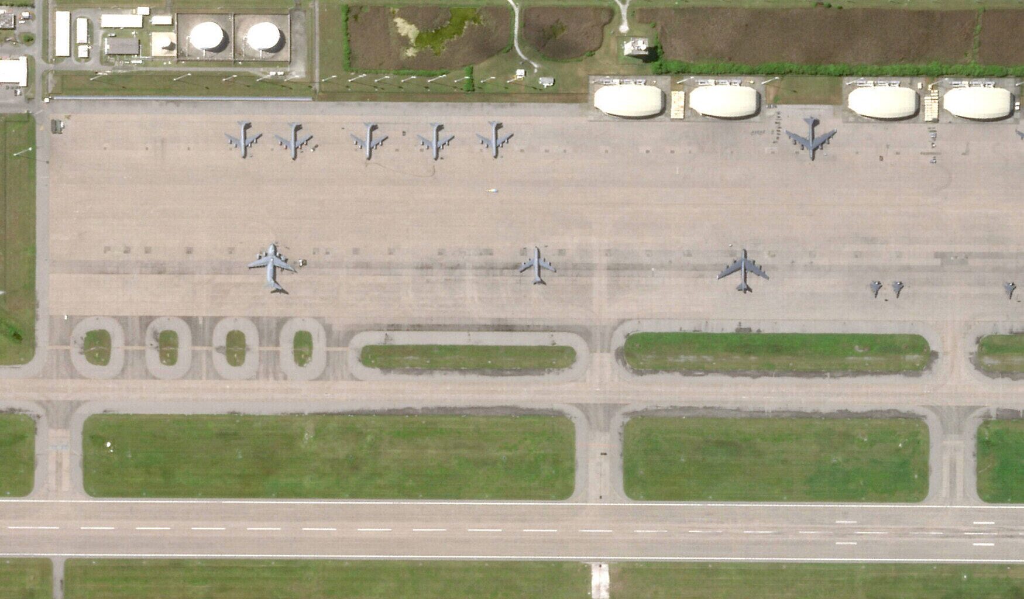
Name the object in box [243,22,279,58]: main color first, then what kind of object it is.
white storage tank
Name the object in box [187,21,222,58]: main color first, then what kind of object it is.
white storage tank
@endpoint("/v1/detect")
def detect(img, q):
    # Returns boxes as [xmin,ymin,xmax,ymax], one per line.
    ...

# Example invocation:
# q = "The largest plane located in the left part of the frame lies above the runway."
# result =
[249,244,296,291]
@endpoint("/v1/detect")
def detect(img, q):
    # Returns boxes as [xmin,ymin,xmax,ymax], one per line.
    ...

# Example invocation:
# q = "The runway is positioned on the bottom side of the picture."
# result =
[0,501,1024,561]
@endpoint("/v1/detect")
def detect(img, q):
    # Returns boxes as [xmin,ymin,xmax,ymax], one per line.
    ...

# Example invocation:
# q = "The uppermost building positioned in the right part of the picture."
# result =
[624,37,649,55]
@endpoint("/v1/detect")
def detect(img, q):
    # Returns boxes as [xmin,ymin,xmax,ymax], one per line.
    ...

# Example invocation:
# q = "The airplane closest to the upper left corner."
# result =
[225,118,261,157]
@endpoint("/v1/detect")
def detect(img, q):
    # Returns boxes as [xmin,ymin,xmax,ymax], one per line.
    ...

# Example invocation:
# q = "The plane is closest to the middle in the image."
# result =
[519,247,555,284]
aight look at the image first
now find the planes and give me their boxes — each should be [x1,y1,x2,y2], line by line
[1005,282,1016,299]
[892,281,904,297]
[786,115,837,159]
[519,247,555,284]
[275,119,311,158]
[718,249,769,292]
[351,119,387,158]
[225,118,261,157]
[418,120,454,158]
[478,118,514,156]
[249,244,296,291]
[870,281,882,296]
